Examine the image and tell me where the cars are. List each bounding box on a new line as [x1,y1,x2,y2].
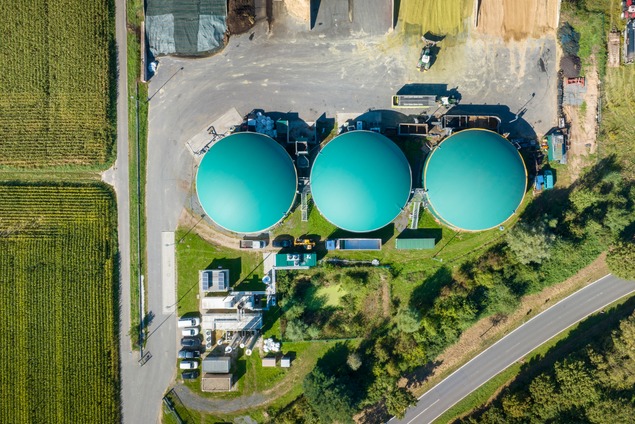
[179,348,200,358]
[180,369,199,379]
[272,239,292,249]
[177,317,201,327]
[180,327,200,337]
[180,360,199,369]
[180,337,202,347]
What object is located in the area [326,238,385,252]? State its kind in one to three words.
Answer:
vehicle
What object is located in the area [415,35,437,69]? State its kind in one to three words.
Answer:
work vehicle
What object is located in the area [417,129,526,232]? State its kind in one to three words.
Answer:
storage tank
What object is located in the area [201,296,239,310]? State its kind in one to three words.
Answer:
building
